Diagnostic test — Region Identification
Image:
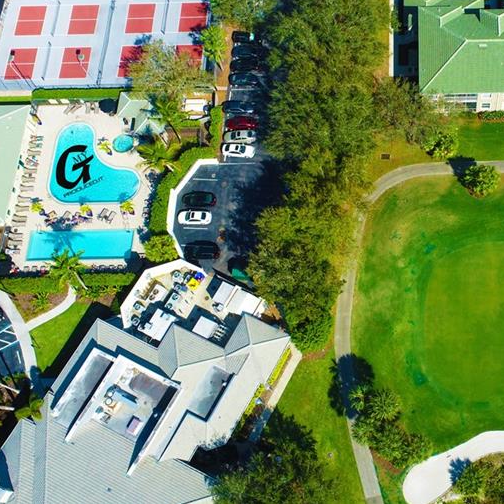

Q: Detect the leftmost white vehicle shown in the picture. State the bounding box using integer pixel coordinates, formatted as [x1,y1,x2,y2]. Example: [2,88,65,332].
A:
[178,209,210,224]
